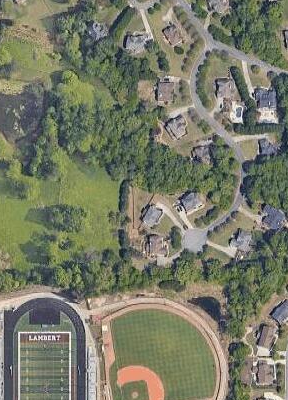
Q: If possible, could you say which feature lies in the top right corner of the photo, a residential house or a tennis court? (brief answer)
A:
residential house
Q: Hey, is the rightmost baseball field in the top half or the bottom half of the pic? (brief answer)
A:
bottom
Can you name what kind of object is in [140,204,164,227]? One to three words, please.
house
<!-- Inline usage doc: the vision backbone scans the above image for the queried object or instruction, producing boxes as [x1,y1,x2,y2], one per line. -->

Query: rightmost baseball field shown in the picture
[103,303,221,400]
